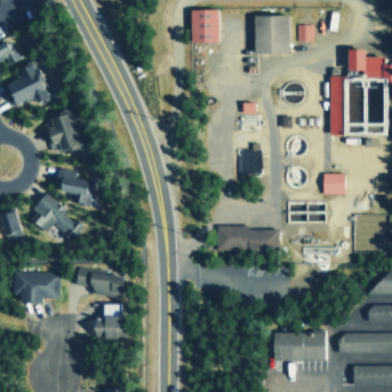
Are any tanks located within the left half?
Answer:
No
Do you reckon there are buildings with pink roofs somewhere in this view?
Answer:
Yes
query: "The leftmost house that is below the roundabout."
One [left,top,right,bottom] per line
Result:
[0,208,26,240]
